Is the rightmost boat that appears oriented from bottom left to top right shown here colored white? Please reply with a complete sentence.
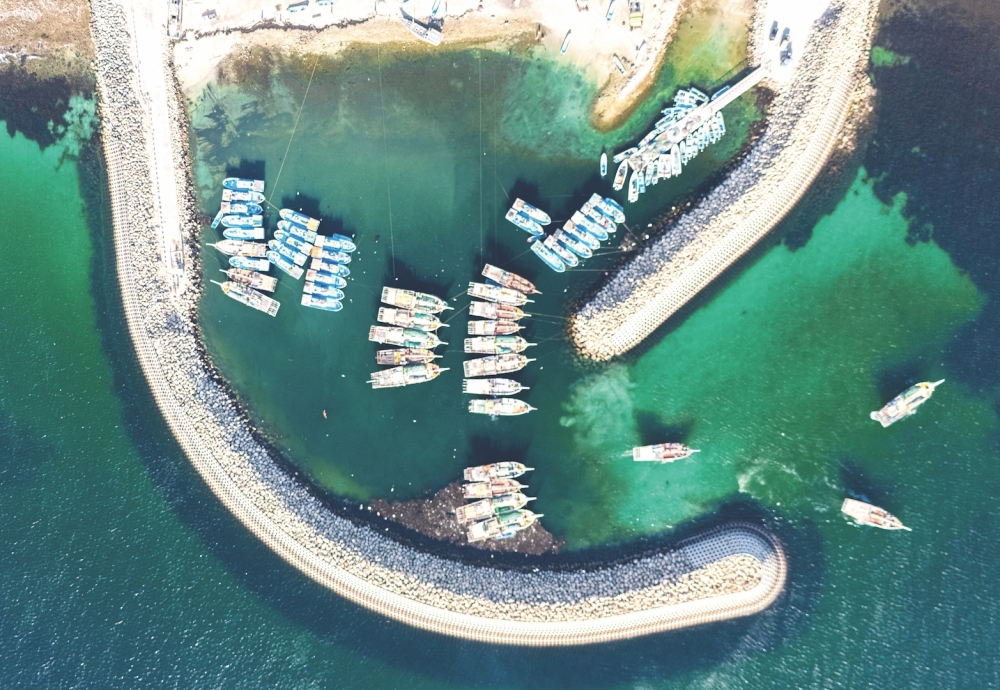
Yes, white is the color of the rightmost boat that appears oriented from bottom left to top right.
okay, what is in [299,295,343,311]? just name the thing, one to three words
boat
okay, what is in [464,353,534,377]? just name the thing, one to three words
boat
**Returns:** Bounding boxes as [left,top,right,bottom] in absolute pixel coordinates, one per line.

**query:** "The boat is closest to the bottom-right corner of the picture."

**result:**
[840,500,912,530]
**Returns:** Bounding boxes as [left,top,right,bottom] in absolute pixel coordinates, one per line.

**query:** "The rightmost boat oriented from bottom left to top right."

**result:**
[878,381,944,426]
